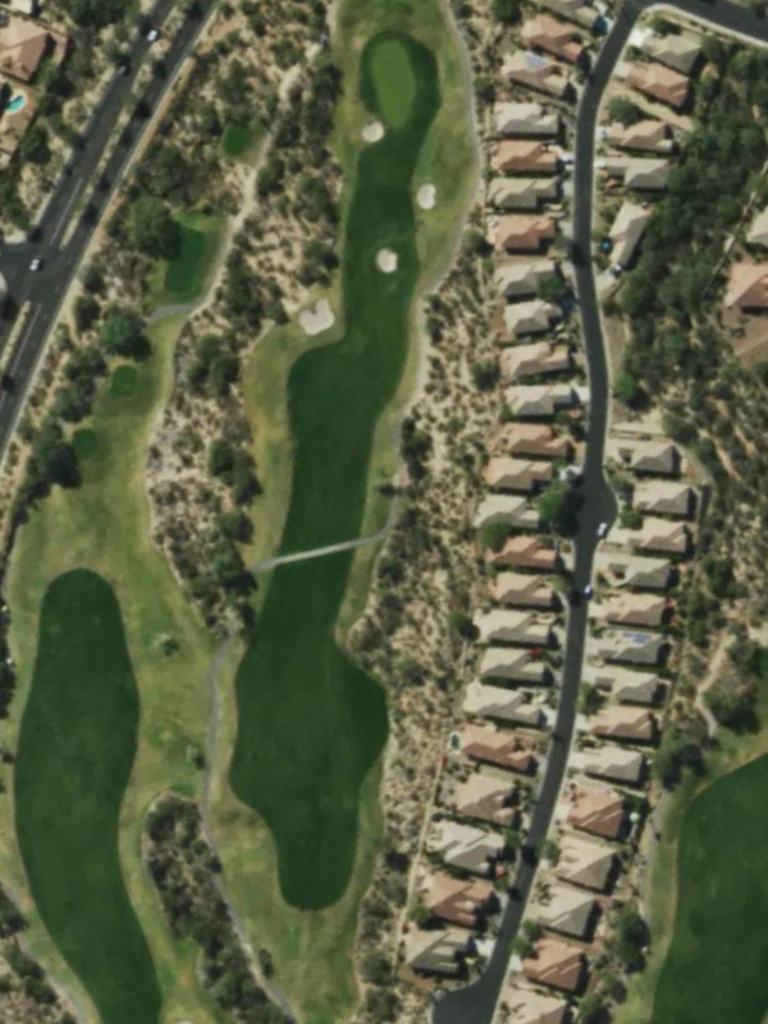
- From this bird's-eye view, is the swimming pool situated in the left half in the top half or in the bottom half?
top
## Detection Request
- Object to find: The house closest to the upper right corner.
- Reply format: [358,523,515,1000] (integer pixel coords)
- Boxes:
[648,28,705,78]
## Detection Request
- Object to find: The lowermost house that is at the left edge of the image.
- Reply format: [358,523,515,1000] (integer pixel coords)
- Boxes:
[0,16,49,80]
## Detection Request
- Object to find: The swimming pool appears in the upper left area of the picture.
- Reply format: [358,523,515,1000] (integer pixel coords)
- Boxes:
[6,92,27,113]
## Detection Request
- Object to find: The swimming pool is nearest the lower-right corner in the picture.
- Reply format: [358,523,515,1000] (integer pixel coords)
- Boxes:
[449,732,461,753]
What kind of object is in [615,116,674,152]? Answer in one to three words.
house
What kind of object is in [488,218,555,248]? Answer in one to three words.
house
